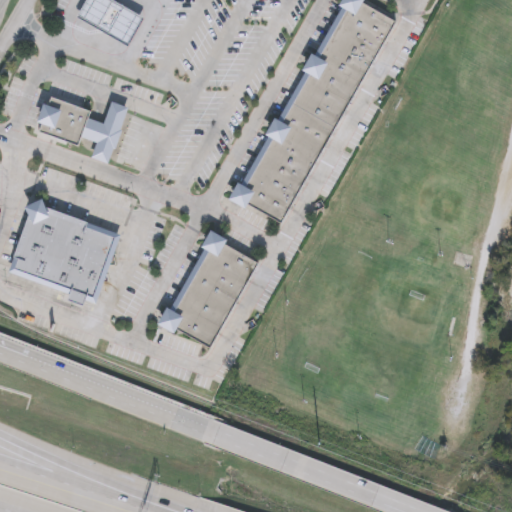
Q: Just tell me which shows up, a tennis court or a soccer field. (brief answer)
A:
soccer field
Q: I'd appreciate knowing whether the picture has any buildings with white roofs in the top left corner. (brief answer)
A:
Yes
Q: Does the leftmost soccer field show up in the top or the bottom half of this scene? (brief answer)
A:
bottom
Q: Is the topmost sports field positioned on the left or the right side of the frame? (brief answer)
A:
right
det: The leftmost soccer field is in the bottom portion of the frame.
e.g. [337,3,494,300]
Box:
[282,308,382,404]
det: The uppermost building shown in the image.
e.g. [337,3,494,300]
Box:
[78,0,144,45]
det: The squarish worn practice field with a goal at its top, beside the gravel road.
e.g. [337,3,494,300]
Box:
[384,284,443,346]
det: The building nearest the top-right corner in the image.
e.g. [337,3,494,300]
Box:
[229,0,396,221]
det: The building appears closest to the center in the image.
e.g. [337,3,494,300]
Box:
[158,231,258,346]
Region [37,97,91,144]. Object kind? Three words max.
building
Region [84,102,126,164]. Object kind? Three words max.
building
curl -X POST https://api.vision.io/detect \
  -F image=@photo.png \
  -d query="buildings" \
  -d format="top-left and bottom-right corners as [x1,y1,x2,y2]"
[37,97,91,144]
[78,0,144,45]
[229,0,396,221]
[84,102,126,164]
[158,231,258,346]
[8,200,120,309]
